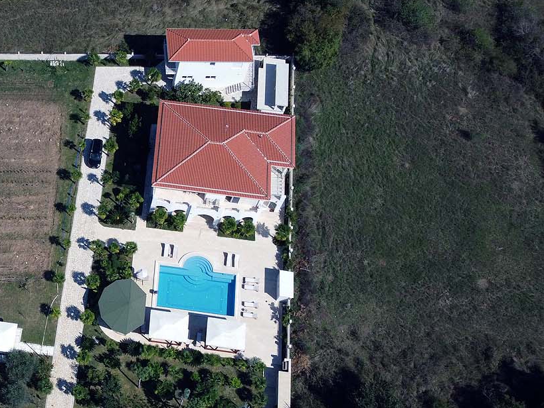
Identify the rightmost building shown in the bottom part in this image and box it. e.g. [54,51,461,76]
[272,272,298,308]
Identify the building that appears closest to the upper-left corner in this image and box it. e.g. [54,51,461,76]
[163,27,261,92]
